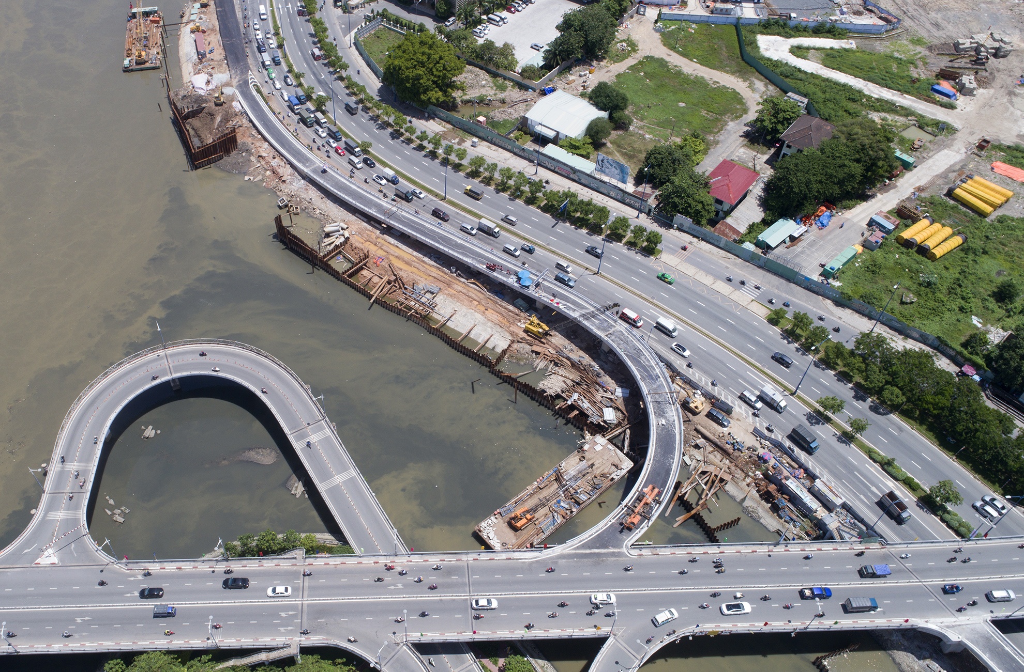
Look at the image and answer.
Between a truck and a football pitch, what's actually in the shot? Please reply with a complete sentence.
The one in the frame is a truck.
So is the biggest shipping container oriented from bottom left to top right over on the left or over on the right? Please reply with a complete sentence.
You can find the biggest shipping container oriented from bottom left to top right on the right side of the picture.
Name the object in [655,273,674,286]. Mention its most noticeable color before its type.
green vehicle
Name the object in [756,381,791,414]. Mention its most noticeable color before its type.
white truck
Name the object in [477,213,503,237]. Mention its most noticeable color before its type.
white truck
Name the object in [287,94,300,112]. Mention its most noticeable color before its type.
blue vehicle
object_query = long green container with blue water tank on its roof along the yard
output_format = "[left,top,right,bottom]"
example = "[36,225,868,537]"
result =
[816,242,866,280]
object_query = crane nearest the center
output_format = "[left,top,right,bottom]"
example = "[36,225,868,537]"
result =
[522,306,618,339]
